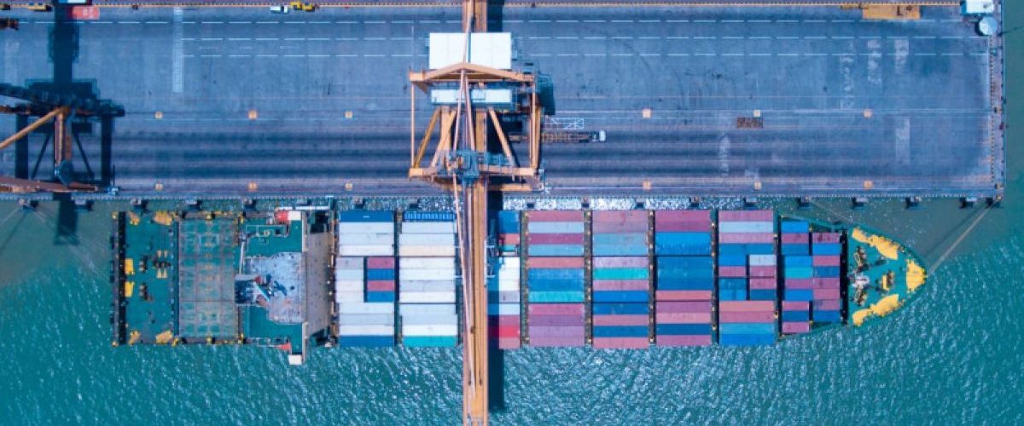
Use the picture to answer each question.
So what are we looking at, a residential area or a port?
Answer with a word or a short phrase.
port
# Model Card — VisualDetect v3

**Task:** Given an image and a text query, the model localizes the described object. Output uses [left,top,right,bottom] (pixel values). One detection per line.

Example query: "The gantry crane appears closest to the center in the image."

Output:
[406,0,552,426]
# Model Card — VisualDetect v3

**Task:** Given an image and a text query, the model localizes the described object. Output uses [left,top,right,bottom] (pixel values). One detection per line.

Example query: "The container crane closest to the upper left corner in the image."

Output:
[0,81,116,194]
